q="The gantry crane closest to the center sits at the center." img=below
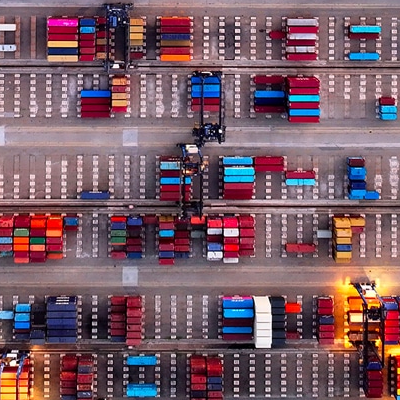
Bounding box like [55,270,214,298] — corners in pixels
[171,140,209,220]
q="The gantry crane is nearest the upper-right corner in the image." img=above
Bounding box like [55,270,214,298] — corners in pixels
[188,65,226,143]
